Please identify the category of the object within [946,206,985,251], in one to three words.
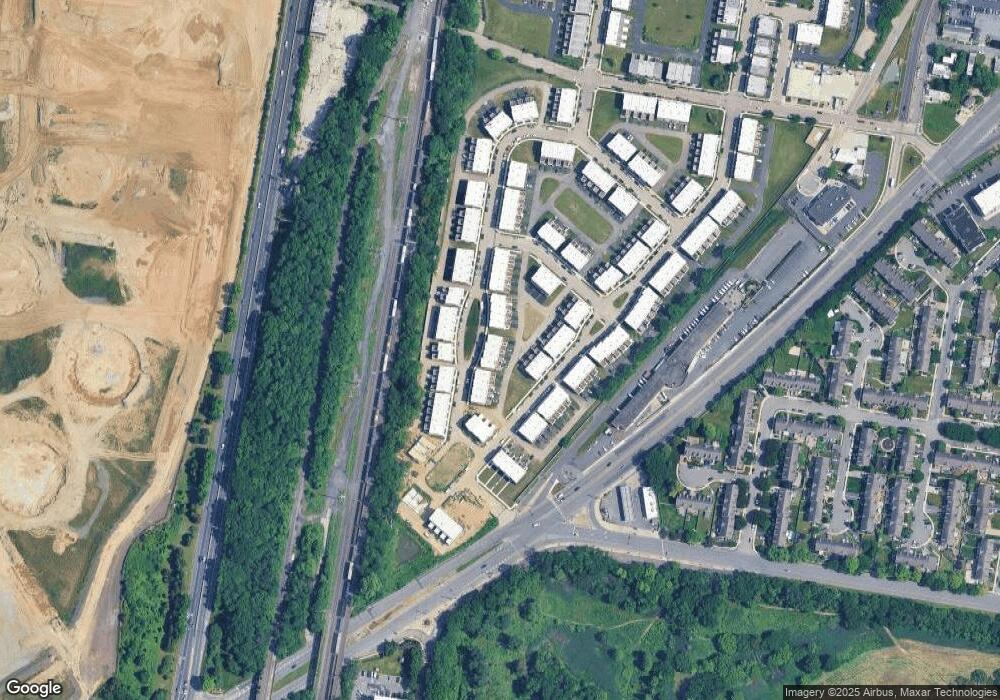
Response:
building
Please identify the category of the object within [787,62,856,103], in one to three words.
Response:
building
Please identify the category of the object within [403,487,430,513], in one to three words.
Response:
house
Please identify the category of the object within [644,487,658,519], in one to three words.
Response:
shed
